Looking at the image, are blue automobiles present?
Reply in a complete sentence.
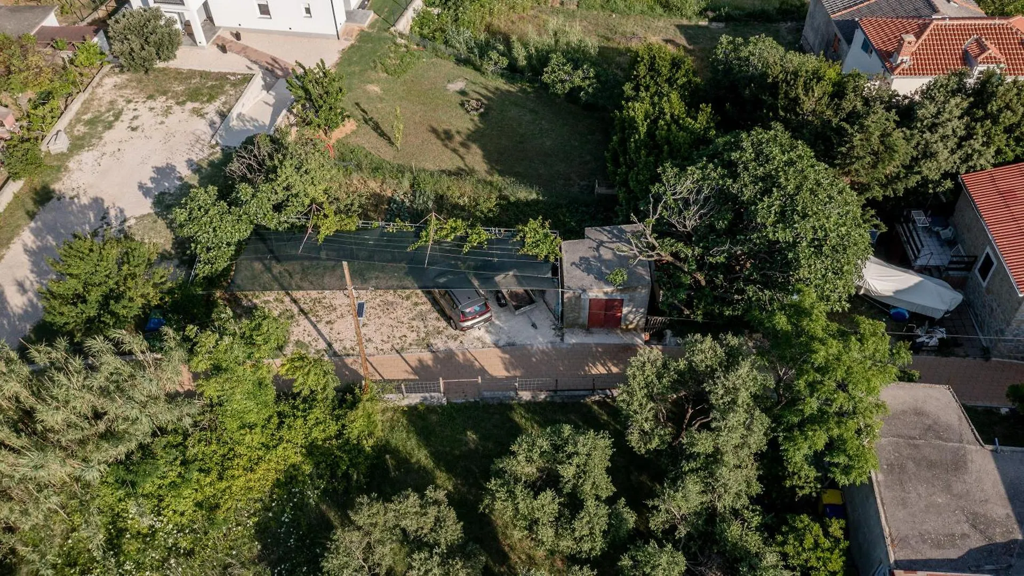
No, I find no blue automobile anywhere in the image.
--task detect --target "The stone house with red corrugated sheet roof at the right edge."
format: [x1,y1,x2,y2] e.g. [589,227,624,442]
[951,169,1024,343]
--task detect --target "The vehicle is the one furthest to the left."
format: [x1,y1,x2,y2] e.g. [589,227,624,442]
[430,290,488,325]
